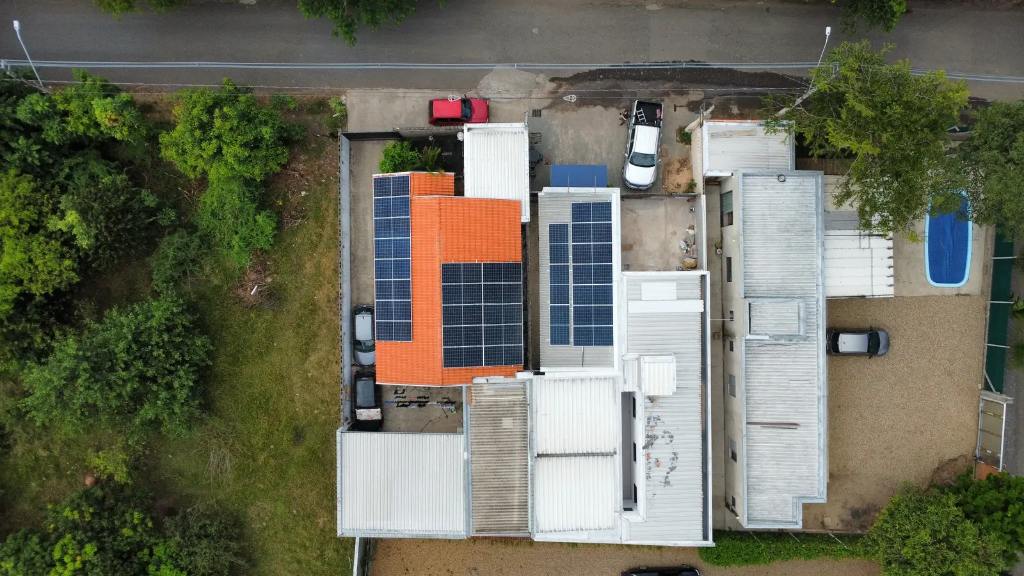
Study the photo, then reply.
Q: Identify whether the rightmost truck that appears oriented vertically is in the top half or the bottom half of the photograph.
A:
top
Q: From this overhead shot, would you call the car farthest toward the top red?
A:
Yes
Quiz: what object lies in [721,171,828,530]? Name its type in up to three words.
house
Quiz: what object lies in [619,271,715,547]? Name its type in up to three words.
house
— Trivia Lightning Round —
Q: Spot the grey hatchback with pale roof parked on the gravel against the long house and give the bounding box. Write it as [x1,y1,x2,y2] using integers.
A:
[825,326,890,361]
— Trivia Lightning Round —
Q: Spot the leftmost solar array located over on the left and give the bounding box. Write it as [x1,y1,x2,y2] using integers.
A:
[374,173,412,343]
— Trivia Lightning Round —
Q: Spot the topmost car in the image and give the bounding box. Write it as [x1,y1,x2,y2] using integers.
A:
[428,92,489,124]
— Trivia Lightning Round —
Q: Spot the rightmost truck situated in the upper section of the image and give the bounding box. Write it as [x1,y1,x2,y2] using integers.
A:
[625,100,664,188]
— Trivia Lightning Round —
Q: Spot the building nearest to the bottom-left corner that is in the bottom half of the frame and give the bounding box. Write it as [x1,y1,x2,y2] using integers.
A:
[336,424,467,538]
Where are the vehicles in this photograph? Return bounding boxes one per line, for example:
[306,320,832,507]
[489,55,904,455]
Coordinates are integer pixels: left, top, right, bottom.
[625,100,664,188]
[352,370,384,428]
[825,326,890,361]
[622,562,699,576]
[428,92,489,124]
[351,304,376,367]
